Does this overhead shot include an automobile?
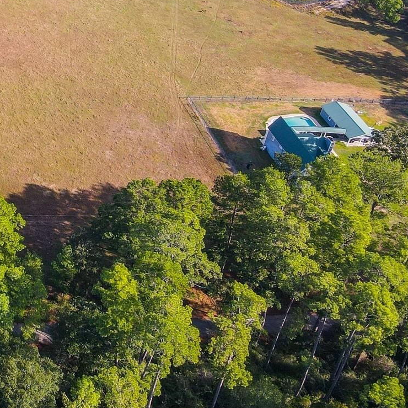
No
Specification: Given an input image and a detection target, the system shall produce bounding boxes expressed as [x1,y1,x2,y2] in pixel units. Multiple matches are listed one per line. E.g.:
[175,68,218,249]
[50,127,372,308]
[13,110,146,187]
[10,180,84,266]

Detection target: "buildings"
[261,116,339,186]
[320,98,395,163]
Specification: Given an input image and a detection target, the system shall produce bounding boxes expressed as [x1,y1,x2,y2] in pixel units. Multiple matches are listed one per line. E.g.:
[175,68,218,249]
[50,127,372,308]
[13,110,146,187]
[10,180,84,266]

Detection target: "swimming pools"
[290,117,316,129]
